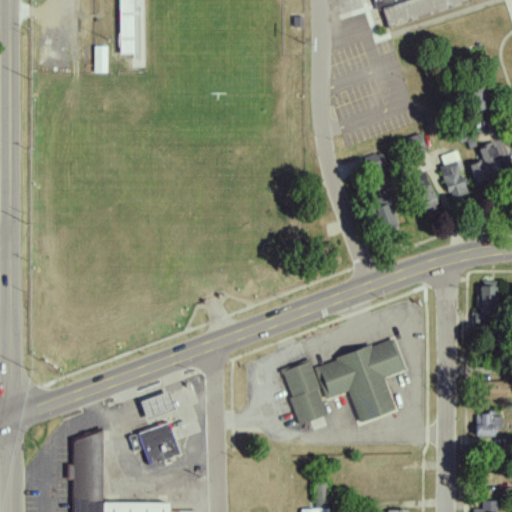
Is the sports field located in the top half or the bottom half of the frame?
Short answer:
top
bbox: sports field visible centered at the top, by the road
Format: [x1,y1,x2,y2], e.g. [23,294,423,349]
[150,0,281,100]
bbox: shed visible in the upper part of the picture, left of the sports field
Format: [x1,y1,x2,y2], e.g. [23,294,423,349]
[93,45,109,74]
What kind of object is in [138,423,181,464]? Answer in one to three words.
building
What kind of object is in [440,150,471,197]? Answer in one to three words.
house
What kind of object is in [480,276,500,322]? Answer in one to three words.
house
